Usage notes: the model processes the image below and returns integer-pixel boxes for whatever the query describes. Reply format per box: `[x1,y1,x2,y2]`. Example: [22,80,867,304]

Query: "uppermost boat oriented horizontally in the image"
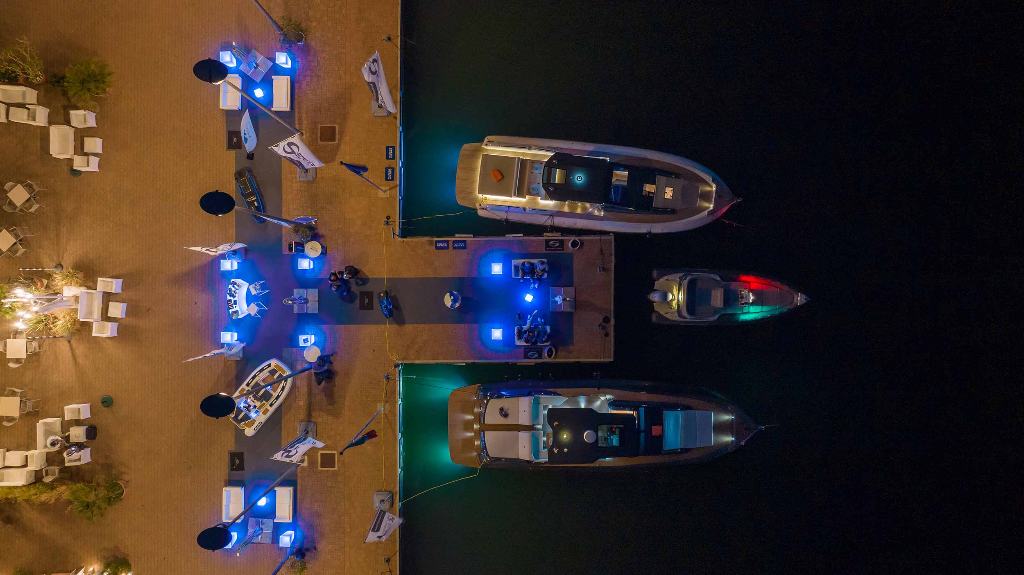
[453,136,741,233]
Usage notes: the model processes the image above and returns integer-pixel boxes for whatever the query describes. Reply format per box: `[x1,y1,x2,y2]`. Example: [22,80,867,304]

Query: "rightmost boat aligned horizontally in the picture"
[647,268,811,326]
